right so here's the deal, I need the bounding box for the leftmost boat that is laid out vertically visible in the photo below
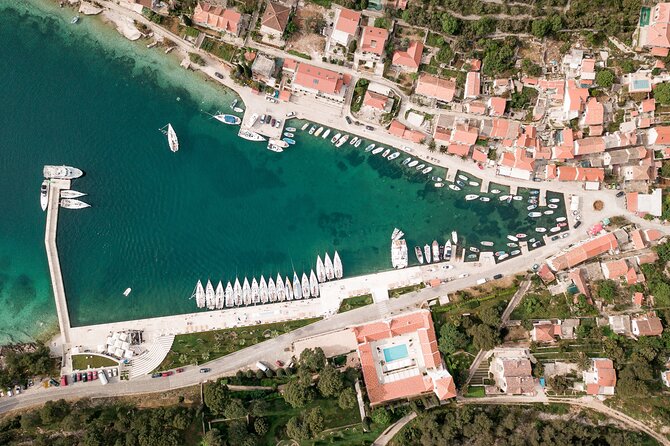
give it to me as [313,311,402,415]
[37,179,50,211]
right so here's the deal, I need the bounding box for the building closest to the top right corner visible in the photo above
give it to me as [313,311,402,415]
[637,1,670,58]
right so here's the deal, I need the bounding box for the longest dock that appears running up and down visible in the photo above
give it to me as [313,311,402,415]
[44,179,72,343]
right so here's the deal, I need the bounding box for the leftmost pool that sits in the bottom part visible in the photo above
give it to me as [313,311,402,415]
[380,341,412,366]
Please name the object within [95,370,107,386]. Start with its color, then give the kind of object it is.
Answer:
white vehicle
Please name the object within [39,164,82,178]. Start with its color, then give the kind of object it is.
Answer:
white boat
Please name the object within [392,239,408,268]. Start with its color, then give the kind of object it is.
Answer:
white boat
